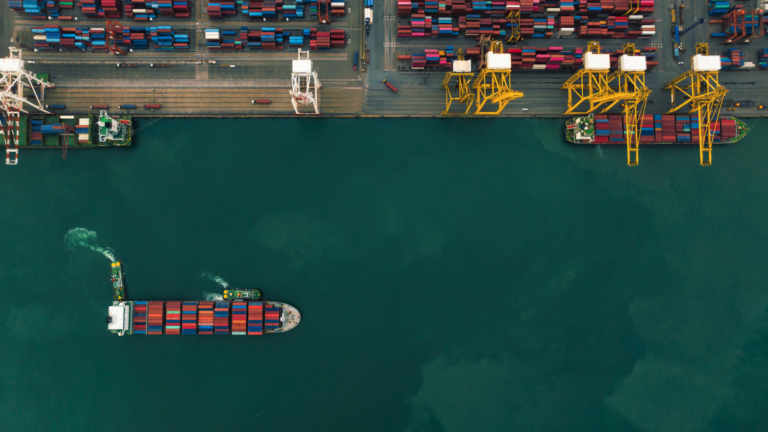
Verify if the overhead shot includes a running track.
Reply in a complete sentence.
No, the frame has no running track in it.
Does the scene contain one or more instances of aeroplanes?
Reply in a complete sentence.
No, this view has no aeroplane in it.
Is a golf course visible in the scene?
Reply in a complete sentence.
No, no golf course is visible in the scene.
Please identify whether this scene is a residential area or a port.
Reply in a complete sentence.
What you see here is a port.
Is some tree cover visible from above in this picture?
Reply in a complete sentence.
No, there's no tree cover in this view.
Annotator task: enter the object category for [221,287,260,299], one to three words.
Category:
boat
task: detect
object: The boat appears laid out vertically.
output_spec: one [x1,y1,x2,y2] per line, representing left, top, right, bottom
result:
[110,260,125,299]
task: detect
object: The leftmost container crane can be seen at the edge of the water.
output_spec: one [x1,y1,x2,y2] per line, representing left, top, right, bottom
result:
[0,40,58,166]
